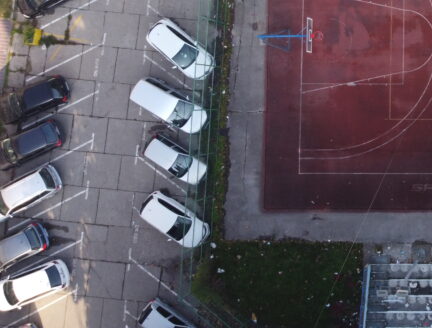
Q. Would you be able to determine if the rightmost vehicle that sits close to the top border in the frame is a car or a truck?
car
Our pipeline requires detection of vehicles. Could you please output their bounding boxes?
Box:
[0,160,68,218]
[0,219,57,274]
[0,117,71,172]
[144,16,220,81]
[123,75,210,135]
[141,132,211,186]
[137,187,215,250]
[0,258,73,313]
[14,0,87,22]
[0,74,78,128]
[15,317,49,328]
